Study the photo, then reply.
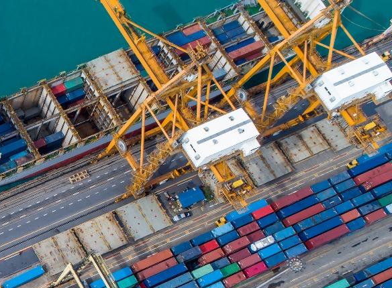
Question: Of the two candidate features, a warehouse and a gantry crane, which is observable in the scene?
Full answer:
It is a gantry crane that can be seen here.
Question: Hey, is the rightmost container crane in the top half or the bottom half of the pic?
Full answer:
The top half of the photo is where the rightmost container crane is.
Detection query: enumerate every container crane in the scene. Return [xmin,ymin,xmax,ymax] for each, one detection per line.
[210,0,392,155]
[43,254,125,288]
[93,0,273,212]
